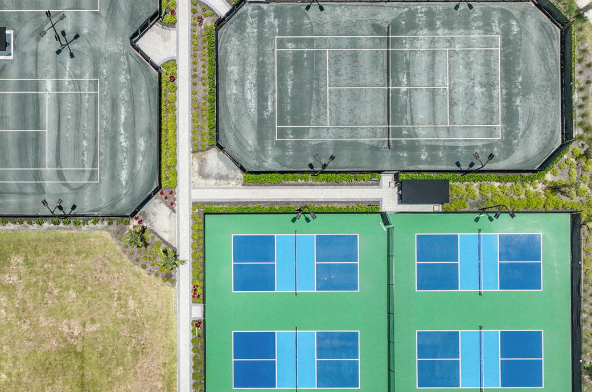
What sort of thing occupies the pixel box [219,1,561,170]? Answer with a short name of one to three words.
tennis court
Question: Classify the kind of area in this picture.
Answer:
sports ground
